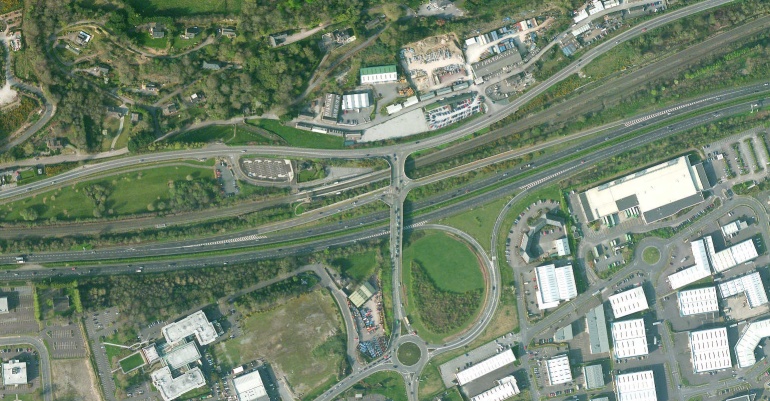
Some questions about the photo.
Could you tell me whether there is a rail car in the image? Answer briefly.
No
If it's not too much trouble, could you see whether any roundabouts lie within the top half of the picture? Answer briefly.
No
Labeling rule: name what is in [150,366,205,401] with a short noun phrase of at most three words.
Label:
building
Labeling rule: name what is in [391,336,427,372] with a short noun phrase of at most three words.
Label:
roundabout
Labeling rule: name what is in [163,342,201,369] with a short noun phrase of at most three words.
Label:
building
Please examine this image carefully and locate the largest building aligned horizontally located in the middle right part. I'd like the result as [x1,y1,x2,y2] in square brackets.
[577,155,703,225]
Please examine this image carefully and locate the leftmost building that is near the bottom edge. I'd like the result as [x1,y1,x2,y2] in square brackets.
[2,360,27,386]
